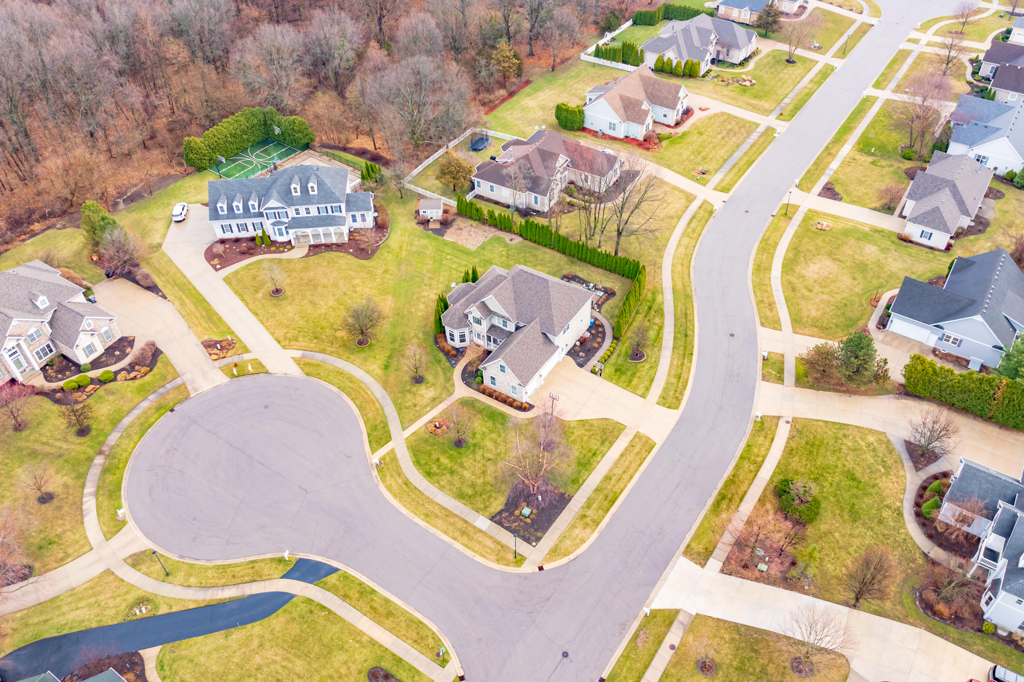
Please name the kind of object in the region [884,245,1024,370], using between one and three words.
house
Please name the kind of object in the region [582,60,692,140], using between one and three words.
house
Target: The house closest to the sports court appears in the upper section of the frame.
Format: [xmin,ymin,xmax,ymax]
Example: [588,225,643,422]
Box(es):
[209,165,373,250]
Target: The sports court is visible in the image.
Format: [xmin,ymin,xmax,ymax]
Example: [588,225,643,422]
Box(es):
[209,140,302,180]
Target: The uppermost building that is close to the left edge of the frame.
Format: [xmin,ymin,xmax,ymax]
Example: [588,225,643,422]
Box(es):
[0,257,123,380]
